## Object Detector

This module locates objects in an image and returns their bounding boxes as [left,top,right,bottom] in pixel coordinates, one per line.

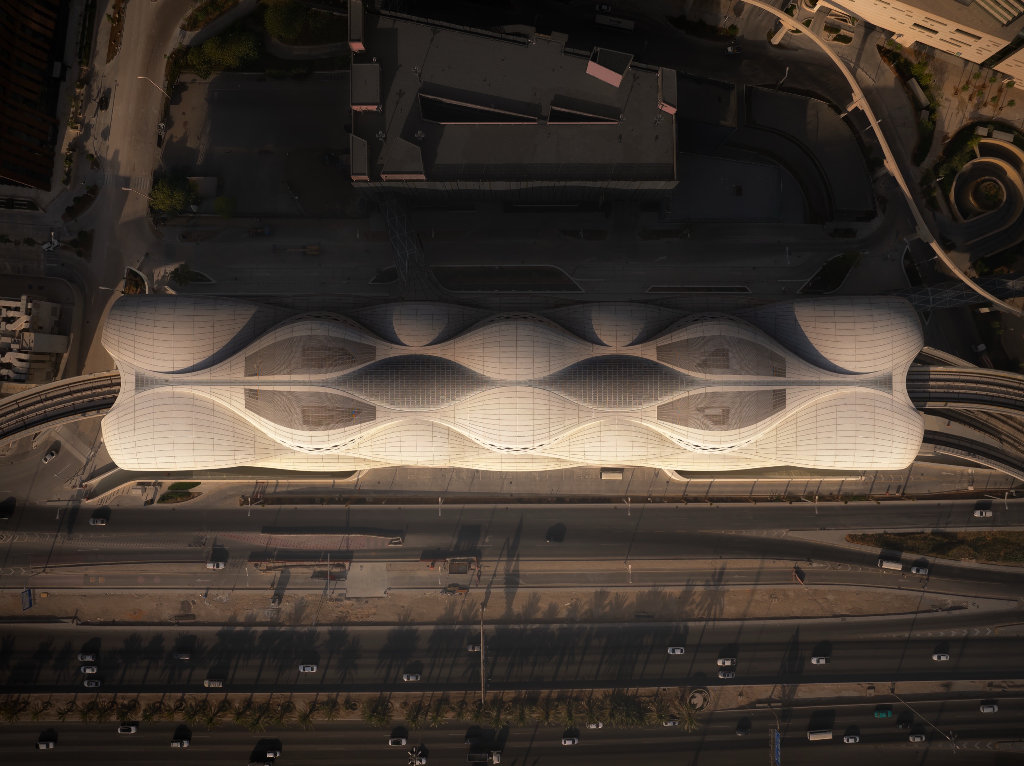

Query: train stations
[102,268,924,472]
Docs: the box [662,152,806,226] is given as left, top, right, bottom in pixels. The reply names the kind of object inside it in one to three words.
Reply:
building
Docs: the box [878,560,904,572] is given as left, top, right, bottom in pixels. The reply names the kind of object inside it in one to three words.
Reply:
vehicle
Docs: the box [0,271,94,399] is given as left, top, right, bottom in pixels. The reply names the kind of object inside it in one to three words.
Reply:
building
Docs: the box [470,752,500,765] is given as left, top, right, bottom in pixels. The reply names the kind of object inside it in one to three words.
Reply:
vehicle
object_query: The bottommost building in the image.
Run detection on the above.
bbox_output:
[448,561,471,575]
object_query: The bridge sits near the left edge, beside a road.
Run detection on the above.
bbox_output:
[0,369,123,447]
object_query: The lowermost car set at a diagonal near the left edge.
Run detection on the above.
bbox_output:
[43,449,57,465]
